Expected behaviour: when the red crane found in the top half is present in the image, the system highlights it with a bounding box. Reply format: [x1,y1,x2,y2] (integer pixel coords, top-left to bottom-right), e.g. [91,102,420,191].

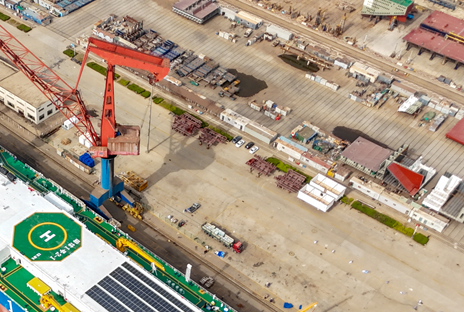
[0,18,170,223]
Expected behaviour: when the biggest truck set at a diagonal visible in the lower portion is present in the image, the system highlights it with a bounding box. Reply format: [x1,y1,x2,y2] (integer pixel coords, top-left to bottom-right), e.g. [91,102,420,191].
[201,224,241,255]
